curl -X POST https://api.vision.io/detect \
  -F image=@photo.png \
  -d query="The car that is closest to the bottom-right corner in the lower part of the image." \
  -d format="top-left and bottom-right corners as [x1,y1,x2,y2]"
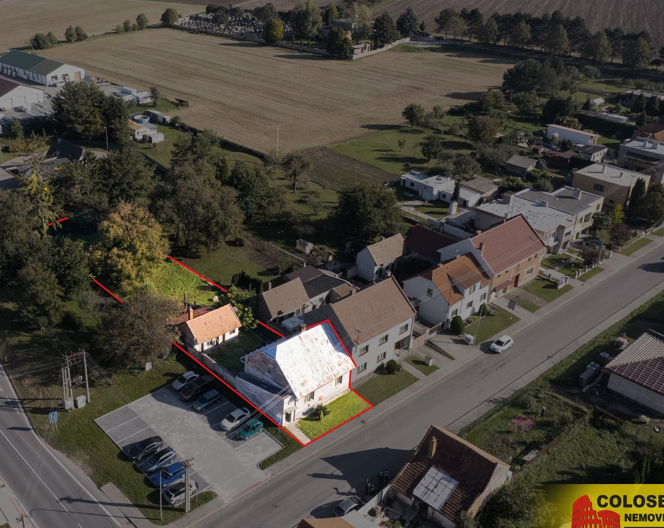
[491,335,514,354]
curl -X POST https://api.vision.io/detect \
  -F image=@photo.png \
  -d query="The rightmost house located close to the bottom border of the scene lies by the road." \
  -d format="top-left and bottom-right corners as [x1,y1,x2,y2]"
[388,424,524,528]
